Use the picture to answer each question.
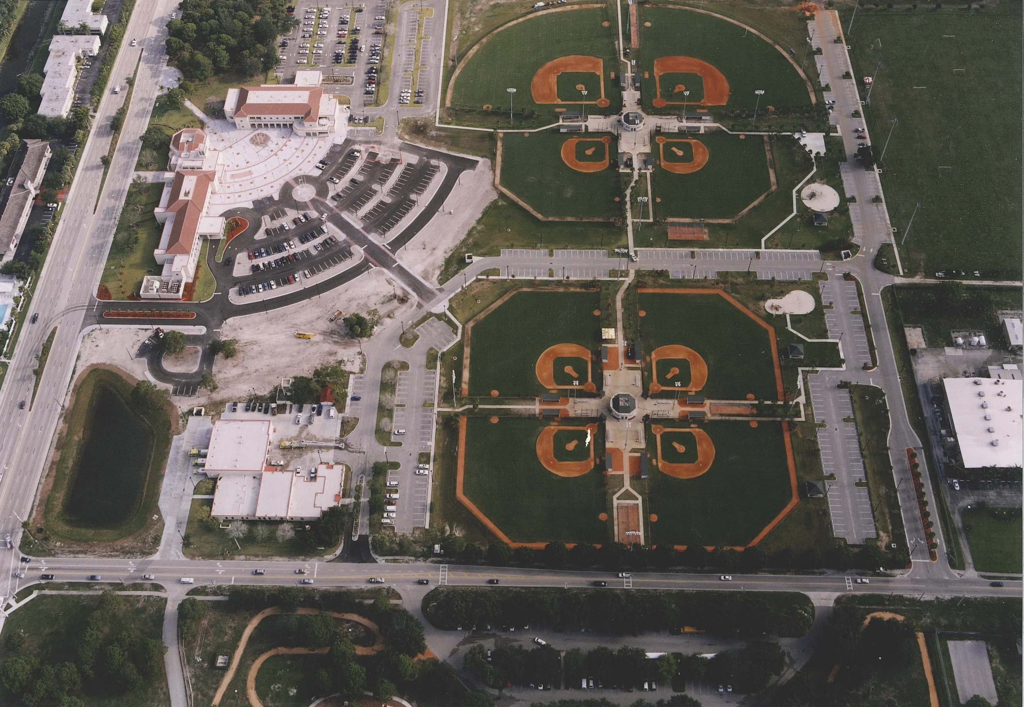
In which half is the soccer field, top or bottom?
top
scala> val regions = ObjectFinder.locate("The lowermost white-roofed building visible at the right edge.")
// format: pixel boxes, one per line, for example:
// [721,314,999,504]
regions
[938,378,1024,477]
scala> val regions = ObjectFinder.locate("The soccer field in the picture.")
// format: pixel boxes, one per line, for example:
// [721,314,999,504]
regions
[855,14,1024,274]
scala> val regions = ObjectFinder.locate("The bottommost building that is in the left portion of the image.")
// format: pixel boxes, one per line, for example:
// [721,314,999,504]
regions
[205,420,345,521]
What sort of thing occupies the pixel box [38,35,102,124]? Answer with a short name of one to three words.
building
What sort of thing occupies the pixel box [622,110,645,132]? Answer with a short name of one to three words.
building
